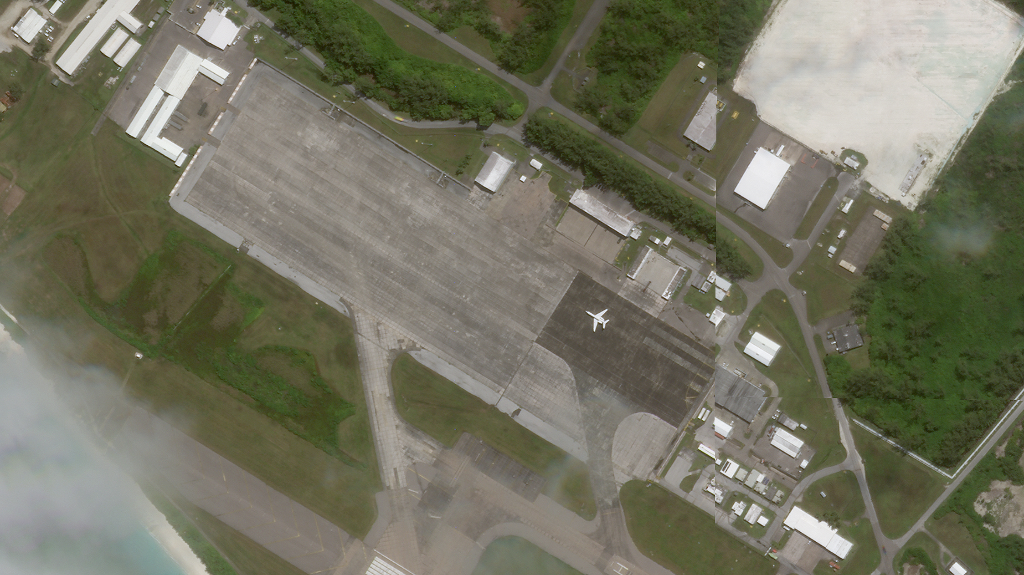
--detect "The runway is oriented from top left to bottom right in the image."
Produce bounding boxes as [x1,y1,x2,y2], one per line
[100,403,415,575]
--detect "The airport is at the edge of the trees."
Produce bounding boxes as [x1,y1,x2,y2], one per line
[100,61,716,575]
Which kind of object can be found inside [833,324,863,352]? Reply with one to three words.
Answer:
house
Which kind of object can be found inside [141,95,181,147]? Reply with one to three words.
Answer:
building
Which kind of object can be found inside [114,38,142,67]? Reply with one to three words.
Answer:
shed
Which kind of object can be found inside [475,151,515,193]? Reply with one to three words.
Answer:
hangar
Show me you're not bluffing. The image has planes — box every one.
[586,310,609,332]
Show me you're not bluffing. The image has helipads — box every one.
[604,555,638,575]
